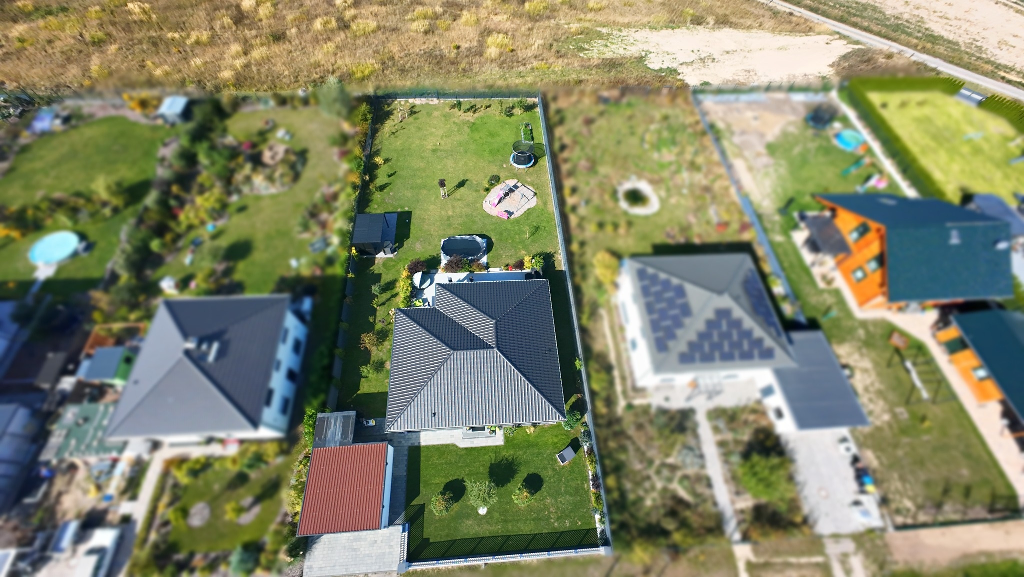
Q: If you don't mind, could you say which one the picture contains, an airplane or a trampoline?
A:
trampoline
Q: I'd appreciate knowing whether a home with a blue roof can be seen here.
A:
Yes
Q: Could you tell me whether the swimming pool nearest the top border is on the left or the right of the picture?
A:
right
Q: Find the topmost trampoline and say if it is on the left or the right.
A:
right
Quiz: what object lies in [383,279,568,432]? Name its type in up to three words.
house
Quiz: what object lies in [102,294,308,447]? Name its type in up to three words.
house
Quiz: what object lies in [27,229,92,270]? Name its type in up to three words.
swimming pool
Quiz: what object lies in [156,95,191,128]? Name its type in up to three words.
shed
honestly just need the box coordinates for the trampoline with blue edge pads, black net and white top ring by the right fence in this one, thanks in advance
[508,140,536,173]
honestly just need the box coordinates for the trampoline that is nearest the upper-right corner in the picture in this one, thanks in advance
[806,101,842,130]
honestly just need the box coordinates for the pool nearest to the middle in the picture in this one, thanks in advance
[441,234,486,263]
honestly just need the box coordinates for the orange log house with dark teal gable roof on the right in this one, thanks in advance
[812,196,1015,309]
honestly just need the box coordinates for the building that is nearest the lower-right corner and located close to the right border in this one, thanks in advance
[936,301,1024,429]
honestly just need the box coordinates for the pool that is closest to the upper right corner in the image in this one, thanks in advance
[835,130,867,153]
